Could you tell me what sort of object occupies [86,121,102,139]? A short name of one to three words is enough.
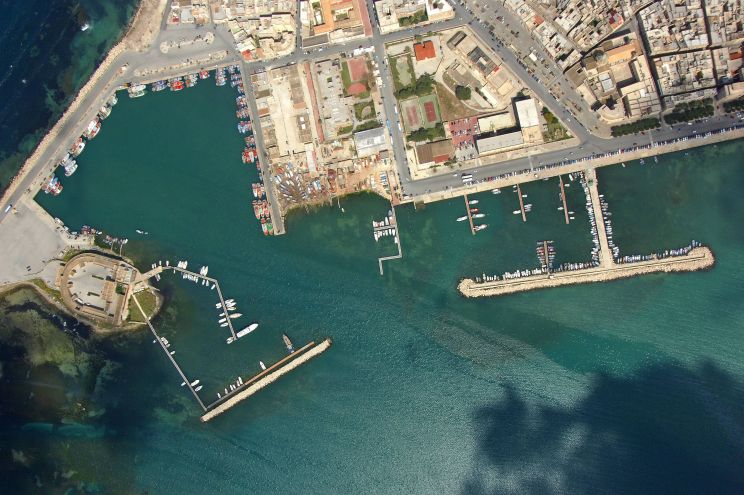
boat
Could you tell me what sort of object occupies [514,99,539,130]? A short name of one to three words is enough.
building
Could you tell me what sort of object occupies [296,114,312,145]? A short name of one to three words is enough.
shed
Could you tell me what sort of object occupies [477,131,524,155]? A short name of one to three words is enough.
shed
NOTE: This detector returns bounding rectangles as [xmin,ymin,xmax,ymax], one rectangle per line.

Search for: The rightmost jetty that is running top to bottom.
[583,168,618,267]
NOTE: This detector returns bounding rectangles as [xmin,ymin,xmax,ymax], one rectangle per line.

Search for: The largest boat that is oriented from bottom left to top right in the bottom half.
[235,324,258,339]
